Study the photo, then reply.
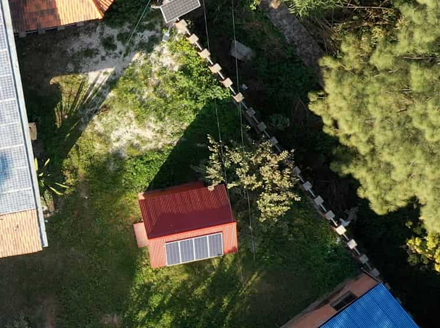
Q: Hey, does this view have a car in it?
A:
No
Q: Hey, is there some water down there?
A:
No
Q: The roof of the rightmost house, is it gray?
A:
No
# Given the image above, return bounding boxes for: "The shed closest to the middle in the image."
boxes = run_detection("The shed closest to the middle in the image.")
[131,176,237,268]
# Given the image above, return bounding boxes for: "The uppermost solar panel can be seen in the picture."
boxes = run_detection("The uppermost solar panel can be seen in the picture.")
[160,0,200,23]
